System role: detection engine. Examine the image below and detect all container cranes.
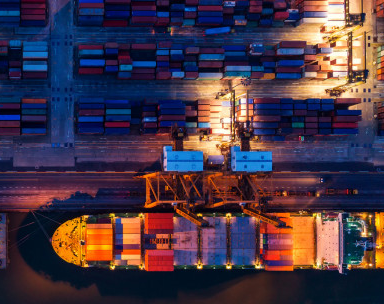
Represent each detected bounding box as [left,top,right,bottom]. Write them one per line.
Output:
[315,0,367,42]
[314,29,367,96]
[190,126,291,226]
[132,126,211,226]
[211,87,249,148]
